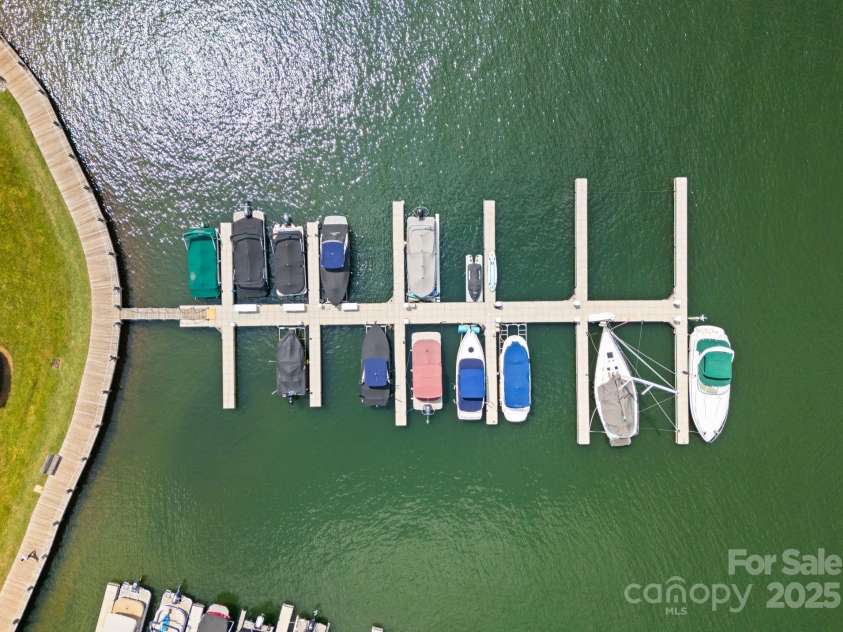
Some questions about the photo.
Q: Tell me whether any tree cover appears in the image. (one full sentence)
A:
No, no tree cover is visible.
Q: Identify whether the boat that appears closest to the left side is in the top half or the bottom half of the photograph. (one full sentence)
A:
You can find the boat that appears closest to the left side in the bottom half.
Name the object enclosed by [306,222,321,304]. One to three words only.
pier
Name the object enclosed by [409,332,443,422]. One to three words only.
boat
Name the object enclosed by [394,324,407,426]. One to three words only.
pier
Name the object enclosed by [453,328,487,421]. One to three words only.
boat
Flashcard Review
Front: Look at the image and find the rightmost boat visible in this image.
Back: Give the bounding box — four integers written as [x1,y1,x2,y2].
[688,323,734,444]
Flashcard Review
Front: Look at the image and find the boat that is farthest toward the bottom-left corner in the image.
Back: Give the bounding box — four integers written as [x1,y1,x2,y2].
[109,578,157,632]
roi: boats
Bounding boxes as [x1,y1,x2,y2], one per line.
[359,323,394,407]
[688,323,734,444]
[109,578,157,632]
[272,218,308,297]
[292,612,330,632]
[405,207,438,301]
[181,221,222,300]
[196,597,232,632]
[151,587,195,632]
[498,335,532,423]
[409,332,443,422]
[277,328,307,408]
[453,328,487,421]
[488,250,497,292]
[226,201,268,299]
[590,324,676,450]
[242,611,275,632]
[320,216,352,308]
